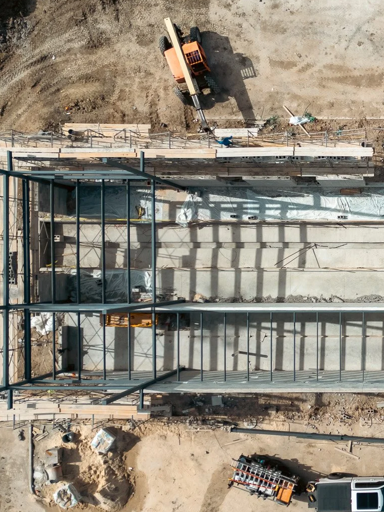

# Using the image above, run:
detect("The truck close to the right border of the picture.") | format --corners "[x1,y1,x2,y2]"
[306,474,384,512]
